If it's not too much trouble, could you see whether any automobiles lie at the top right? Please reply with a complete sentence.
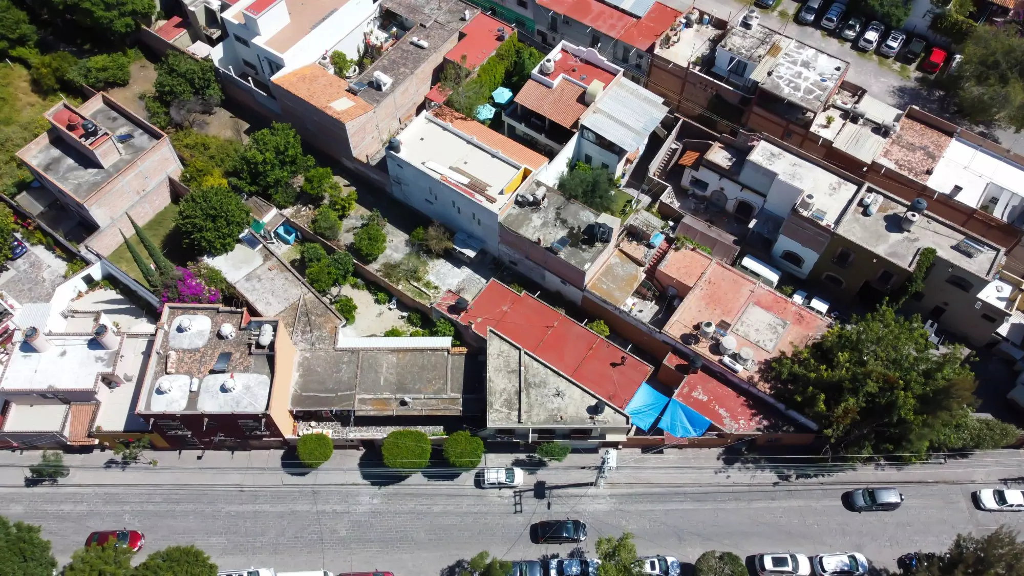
Yes, there is an automobile at the top right.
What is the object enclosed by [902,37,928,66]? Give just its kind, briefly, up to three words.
car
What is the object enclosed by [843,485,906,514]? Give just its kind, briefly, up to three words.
car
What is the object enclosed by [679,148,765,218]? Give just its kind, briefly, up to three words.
house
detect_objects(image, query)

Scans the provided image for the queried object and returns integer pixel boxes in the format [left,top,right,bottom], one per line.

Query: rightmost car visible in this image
[972,486,1024,514]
